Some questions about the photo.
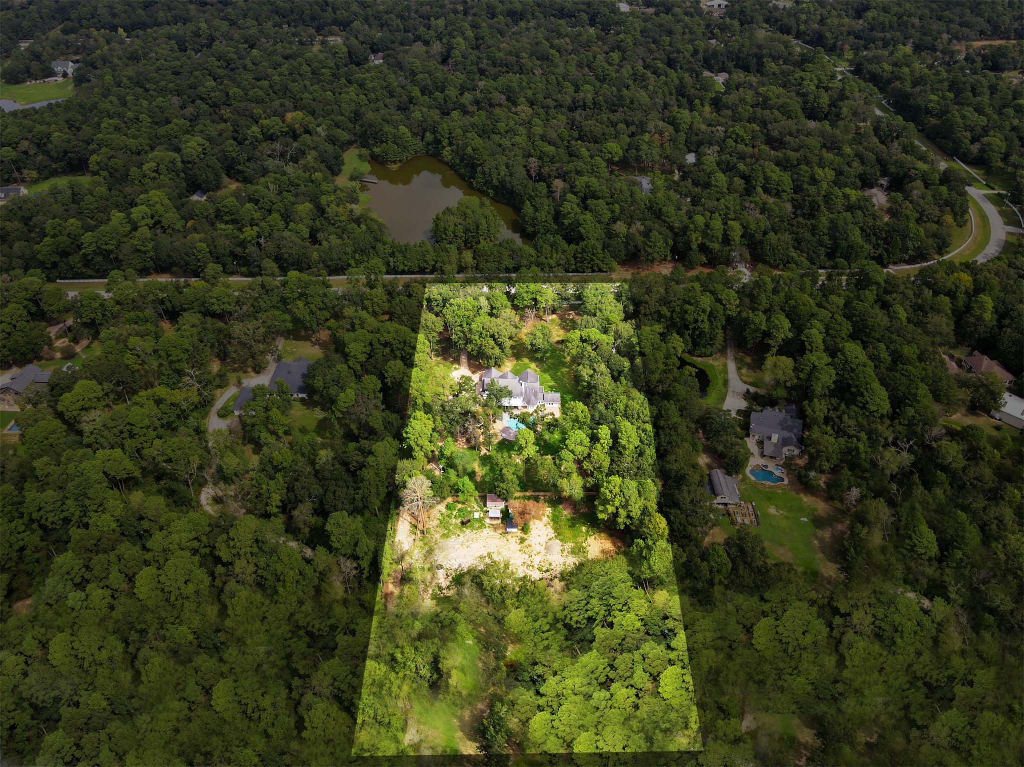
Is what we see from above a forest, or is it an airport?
forest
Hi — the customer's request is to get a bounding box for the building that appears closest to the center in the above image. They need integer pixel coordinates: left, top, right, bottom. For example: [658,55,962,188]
[477,366,562,414]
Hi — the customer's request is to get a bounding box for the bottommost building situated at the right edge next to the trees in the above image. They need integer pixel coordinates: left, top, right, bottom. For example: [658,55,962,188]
[991,387,1024,430]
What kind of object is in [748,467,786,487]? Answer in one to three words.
swimming pool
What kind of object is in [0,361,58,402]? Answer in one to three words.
house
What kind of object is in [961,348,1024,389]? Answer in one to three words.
house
